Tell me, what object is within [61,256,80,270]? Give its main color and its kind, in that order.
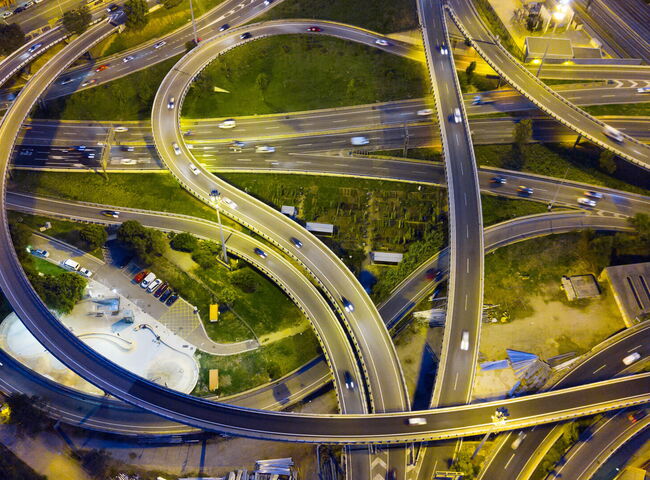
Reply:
white vehicle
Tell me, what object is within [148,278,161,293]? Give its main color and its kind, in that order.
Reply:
white vehicle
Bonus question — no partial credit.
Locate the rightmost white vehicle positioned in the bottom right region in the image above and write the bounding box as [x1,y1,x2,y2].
[622,352,638,364]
